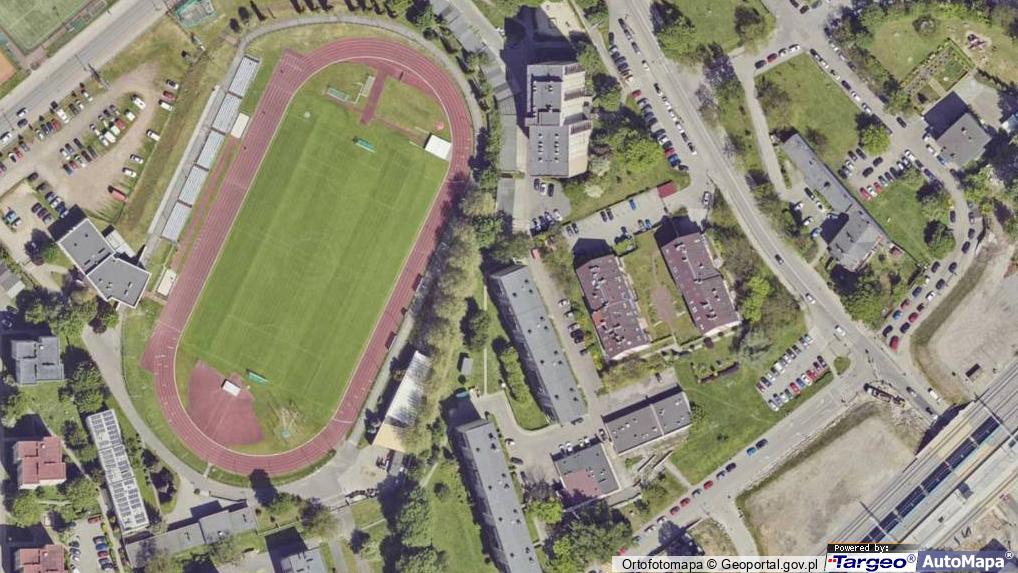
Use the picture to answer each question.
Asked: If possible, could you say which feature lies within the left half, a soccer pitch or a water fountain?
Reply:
soccer pitch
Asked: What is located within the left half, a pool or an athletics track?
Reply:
athletics track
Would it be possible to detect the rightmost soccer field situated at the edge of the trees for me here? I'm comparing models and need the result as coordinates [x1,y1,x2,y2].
[174,56,453,456]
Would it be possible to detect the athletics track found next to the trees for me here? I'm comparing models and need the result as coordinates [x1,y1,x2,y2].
[137,37,472,476]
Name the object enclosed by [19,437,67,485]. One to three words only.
house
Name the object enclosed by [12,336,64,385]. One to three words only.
house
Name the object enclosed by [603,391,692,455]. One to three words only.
building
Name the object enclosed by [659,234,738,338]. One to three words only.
building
